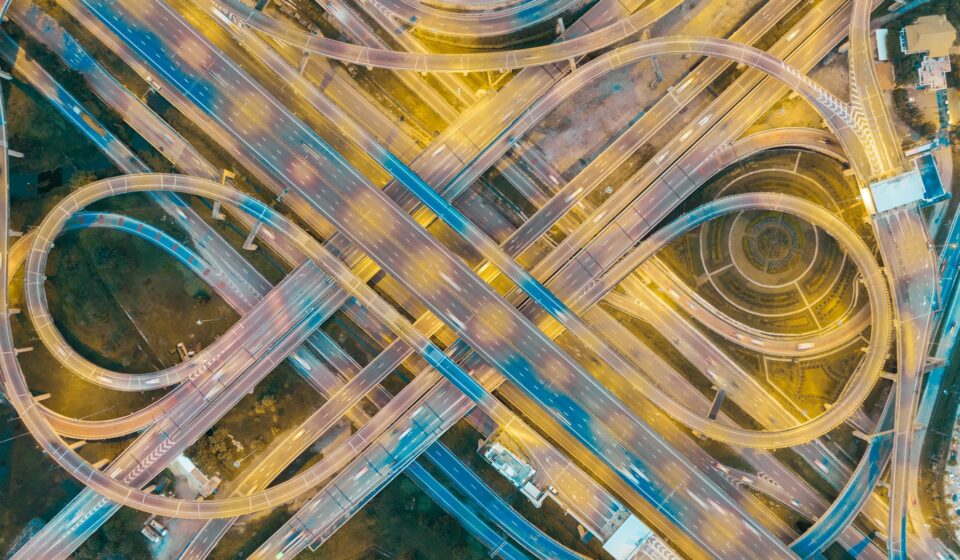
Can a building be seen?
Yes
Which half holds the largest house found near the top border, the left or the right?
right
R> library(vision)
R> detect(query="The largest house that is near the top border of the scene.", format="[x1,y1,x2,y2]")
[900,12,958,59]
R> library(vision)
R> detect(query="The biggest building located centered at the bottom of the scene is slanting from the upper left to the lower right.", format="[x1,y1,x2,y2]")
[485,440,536,489]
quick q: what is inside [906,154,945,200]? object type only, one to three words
building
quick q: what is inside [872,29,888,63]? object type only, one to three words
shed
